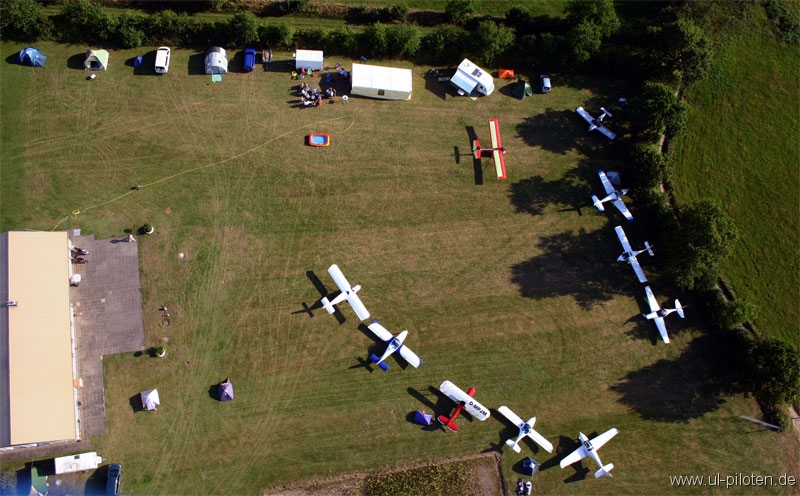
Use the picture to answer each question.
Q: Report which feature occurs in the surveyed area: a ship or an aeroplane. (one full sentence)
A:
Visible in the photo is an aeroplane.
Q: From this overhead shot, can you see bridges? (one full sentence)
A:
No, this view has no bridge in it.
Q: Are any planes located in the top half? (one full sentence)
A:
Yes, a plane is visible in the top half.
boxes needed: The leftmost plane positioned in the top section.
[473,120,509,177]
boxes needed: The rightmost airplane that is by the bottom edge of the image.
[559,428,621,484]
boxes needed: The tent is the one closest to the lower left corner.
[26,473,50,496]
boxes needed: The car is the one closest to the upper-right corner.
[538,76,552,96]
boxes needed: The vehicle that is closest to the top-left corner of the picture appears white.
[156,48,172,75]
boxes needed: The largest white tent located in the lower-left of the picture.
[139,392,161,418]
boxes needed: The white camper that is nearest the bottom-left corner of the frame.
[55,455,114,481]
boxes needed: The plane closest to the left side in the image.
[319,267,367,323]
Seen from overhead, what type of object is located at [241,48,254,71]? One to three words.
vehicle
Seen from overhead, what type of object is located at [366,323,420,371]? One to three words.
airplane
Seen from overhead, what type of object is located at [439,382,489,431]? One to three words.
airplane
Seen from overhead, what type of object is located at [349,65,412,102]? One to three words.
tent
